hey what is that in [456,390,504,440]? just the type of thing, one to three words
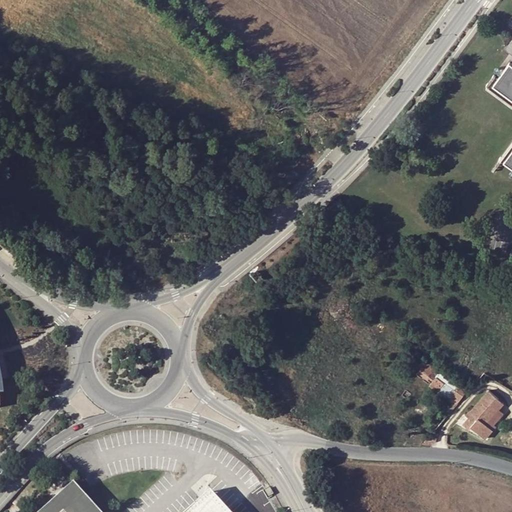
house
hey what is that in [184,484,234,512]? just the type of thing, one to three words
building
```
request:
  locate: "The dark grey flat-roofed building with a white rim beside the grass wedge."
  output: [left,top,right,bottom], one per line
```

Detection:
[36,479,106,512]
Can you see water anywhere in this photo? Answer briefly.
No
